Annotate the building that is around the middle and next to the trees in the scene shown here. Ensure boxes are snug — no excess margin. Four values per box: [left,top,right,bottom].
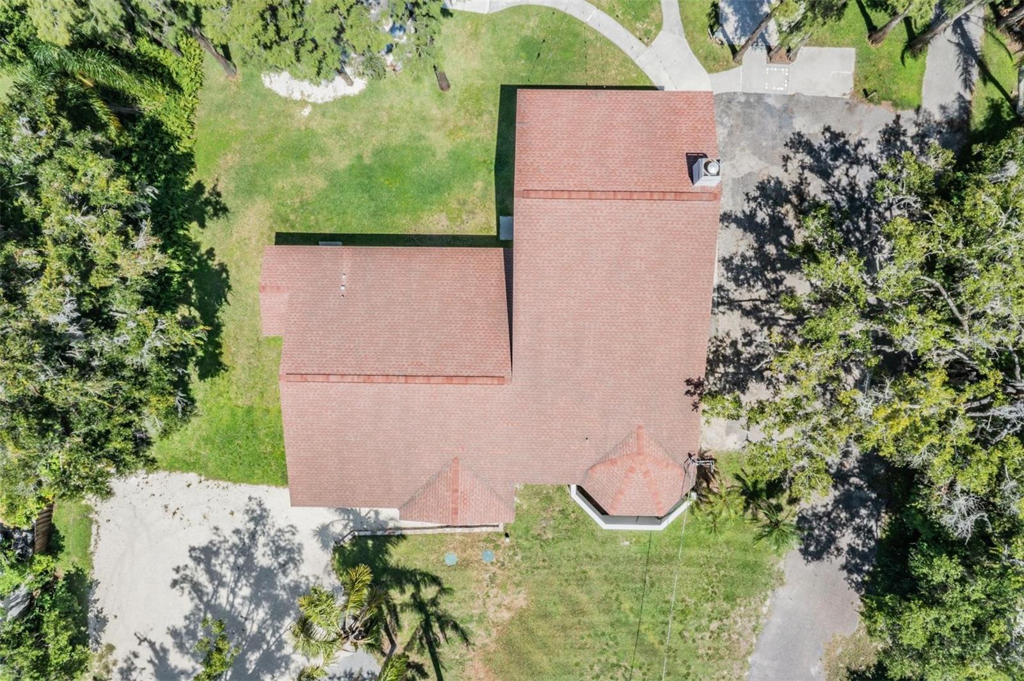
[260,89,723,530]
